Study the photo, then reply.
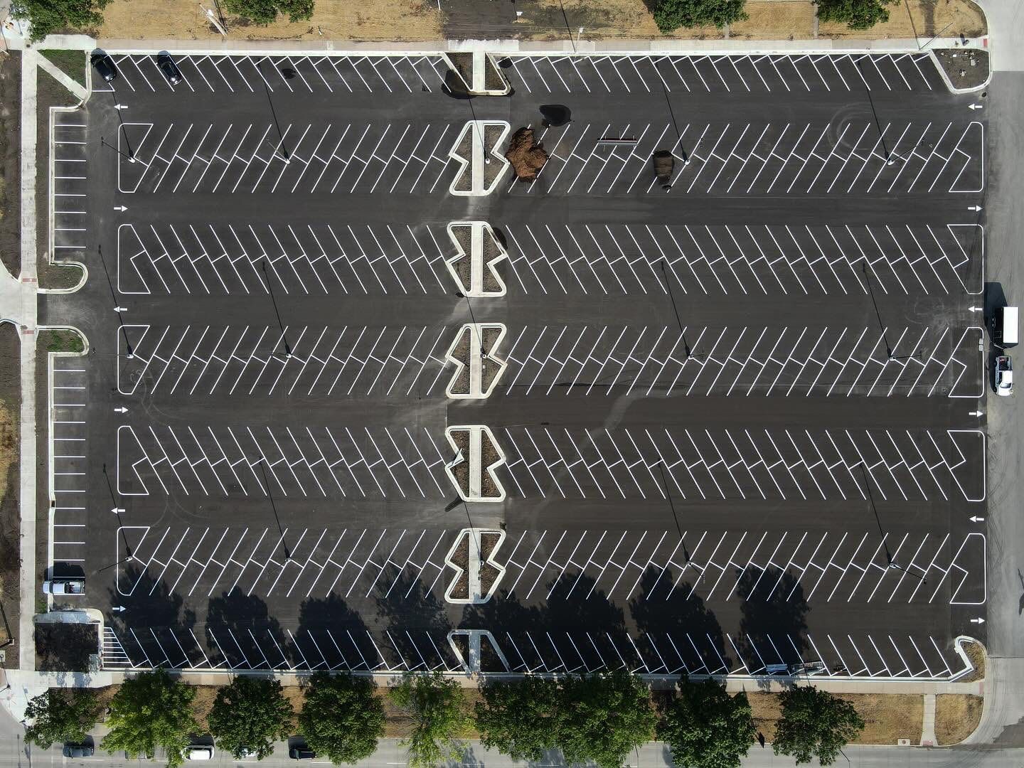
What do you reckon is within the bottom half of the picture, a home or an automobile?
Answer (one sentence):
You can see an automobile within the bottom half of the picture.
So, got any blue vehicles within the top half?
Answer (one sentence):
No, there is no blue vehicle within the top half.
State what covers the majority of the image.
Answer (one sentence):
What you mostly see from above here is paved ground.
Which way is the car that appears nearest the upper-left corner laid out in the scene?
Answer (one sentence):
Seen from above, the car that appears nearest the upper-left corner lies diagonally.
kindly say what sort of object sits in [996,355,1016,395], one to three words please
vehicle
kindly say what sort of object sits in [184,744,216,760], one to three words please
car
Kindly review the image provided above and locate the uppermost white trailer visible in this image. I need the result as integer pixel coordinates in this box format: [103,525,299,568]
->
[992,304,1019,350]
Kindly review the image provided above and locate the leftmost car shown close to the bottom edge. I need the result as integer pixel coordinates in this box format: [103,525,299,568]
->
[63,744,94,760]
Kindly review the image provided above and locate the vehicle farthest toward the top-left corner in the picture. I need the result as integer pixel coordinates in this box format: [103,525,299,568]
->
[88,50,115,82]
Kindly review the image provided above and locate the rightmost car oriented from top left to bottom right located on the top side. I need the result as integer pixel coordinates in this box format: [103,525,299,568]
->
[156,52,182,82]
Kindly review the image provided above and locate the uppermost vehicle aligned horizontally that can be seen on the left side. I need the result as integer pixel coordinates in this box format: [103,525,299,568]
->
[42,580,83,597]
